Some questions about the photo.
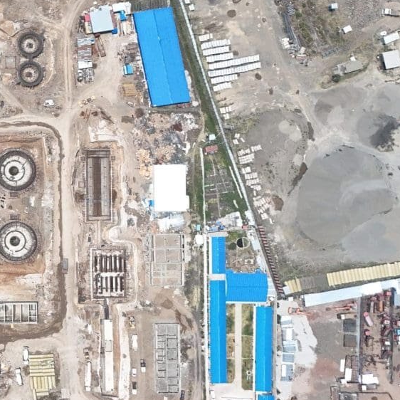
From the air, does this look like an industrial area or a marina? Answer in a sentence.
The picture captures an industrial area.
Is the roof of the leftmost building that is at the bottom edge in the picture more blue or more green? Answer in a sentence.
From above, the roof of the leftmost building that is at the bottom edge appears blue.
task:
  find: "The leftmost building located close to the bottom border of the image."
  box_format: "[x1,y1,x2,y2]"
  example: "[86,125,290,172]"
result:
[206,280,226,383]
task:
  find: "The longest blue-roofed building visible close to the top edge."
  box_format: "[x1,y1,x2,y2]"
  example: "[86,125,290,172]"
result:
[129,8,190,108]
